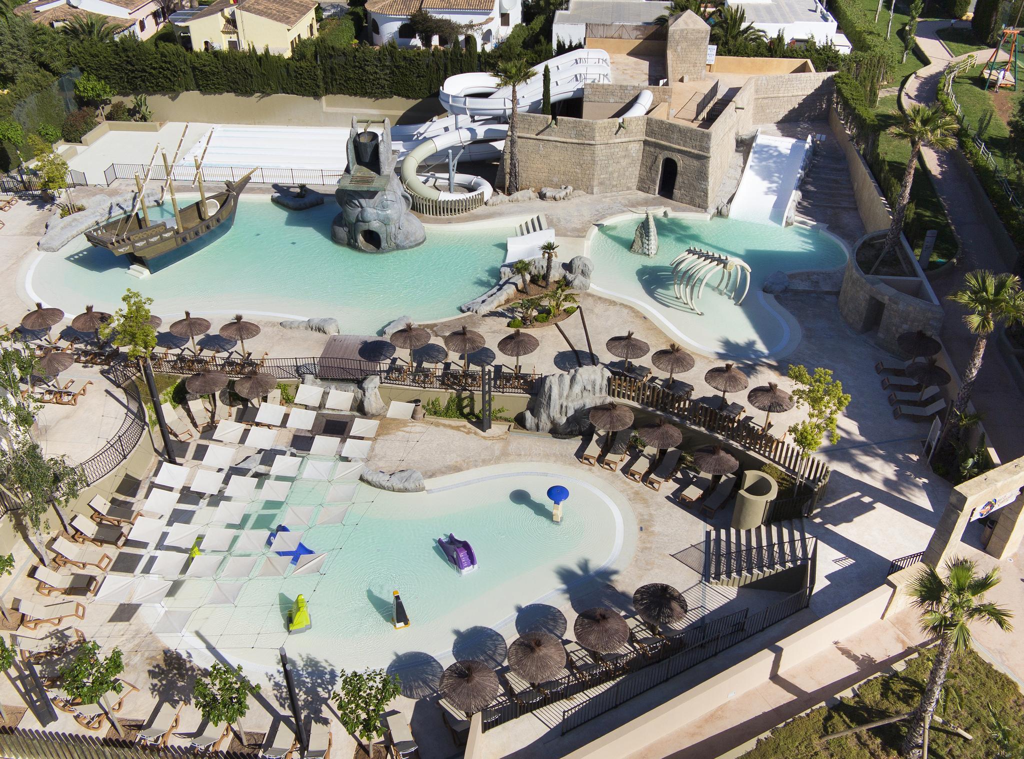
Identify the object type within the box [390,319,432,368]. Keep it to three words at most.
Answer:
umbrella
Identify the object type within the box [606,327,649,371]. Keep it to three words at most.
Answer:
umbrella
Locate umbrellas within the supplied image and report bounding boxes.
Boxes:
[218,314,262,363]
[29,345,77,390]
[903,354,951,405]
[233,367,276,408]
[169,309,212,358]
[651,342,696,387]
[703,360,749,404]
[506,634,566,693]
[444,322,486,372]
[631,582,689,640]
[20,302,64,350]
[68,305,108,352]
[437,661,500,722]
[495,325,538,375]
[390,319,432,368]
[606,327,649,371]
[185,363,229,414]
[571,608,629,665]
[590,399,635,449]
[636,418,683,468]
[898,326,943,361]
[749,381,797,426]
